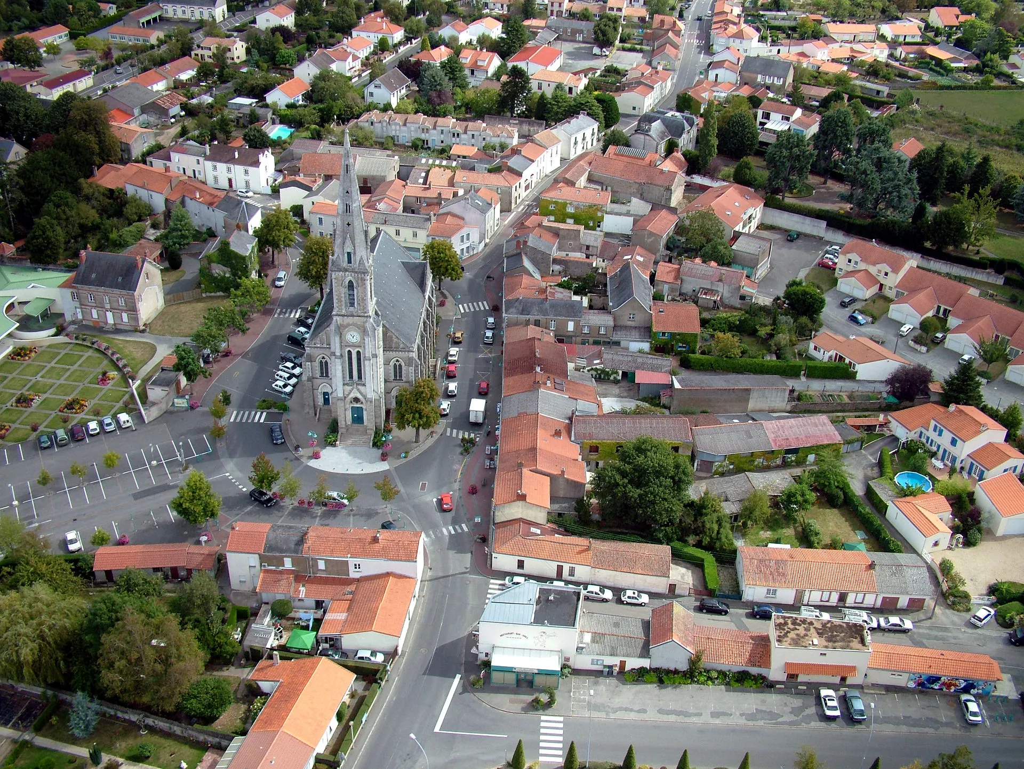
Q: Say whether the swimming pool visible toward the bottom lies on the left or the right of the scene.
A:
right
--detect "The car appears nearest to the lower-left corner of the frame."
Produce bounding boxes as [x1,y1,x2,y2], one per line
[65,530,81,548]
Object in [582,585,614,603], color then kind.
white car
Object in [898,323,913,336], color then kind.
white vehicle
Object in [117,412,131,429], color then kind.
white vehicle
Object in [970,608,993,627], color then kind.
white car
